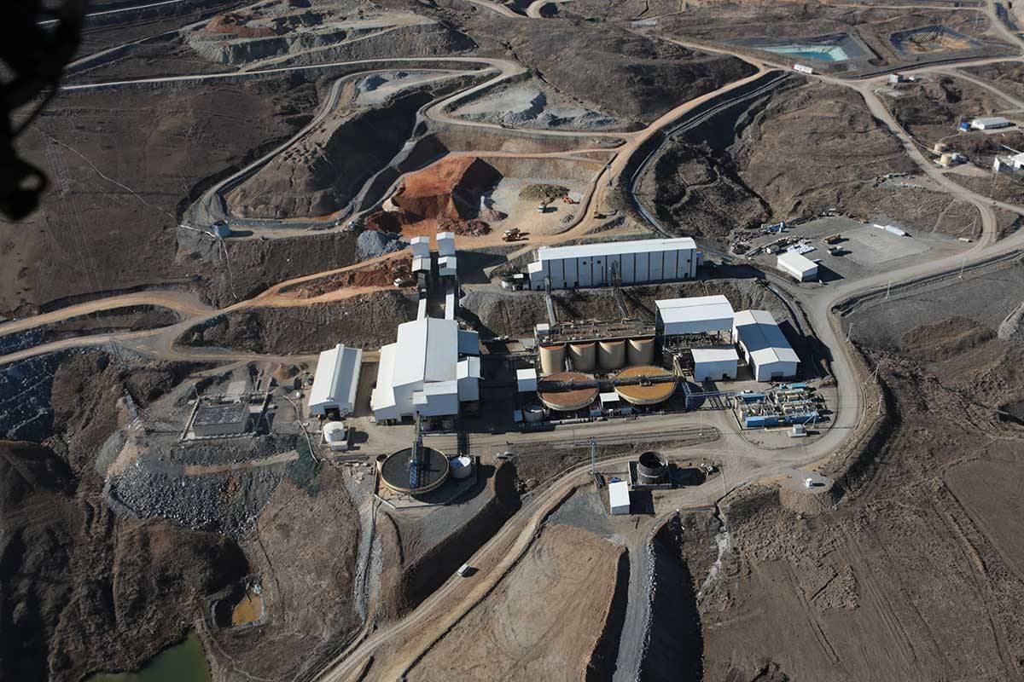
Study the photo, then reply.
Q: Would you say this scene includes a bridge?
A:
Yes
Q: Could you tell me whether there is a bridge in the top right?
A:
No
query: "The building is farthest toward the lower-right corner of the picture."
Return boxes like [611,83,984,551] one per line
[785,419,809,437]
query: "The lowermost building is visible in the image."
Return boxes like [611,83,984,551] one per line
[606,482,631,515]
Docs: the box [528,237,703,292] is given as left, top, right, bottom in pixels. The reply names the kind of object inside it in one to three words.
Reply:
building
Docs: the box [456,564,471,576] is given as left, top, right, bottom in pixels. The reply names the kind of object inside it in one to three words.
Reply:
vehicle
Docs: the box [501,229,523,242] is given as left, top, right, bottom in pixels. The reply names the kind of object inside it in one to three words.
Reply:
vehicle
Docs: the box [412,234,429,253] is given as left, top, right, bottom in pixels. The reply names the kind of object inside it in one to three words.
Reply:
house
